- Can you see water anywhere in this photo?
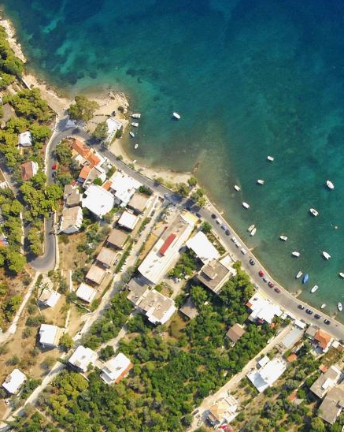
Yes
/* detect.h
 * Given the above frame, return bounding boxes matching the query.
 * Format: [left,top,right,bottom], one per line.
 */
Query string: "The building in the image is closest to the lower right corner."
[318,385,344,421]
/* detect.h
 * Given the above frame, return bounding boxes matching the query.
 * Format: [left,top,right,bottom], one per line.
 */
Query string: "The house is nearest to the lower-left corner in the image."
[2,368,30,394]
